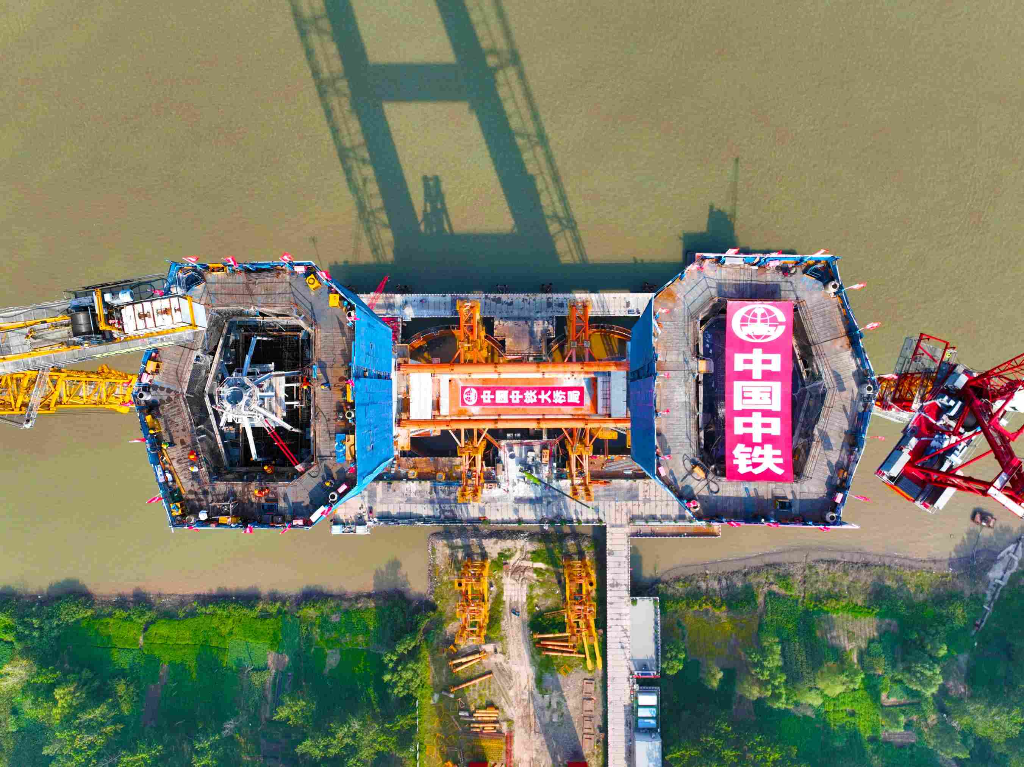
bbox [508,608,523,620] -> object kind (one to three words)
vehicle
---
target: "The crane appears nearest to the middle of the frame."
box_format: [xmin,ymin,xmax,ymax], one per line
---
[367,274,398,343]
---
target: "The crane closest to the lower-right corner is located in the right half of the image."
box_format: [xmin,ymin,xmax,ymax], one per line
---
[873,331,1024,524]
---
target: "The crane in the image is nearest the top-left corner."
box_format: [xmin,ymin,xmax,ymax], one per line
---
[0,268,211,434]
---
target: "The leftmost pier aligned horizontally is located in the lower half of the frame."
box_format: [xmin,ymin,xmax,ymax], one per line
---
[629,525,721,538]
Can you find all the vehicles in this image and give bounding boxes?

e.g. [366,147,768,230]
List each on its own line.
[516,460,594,510]
[508,608,523,620]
